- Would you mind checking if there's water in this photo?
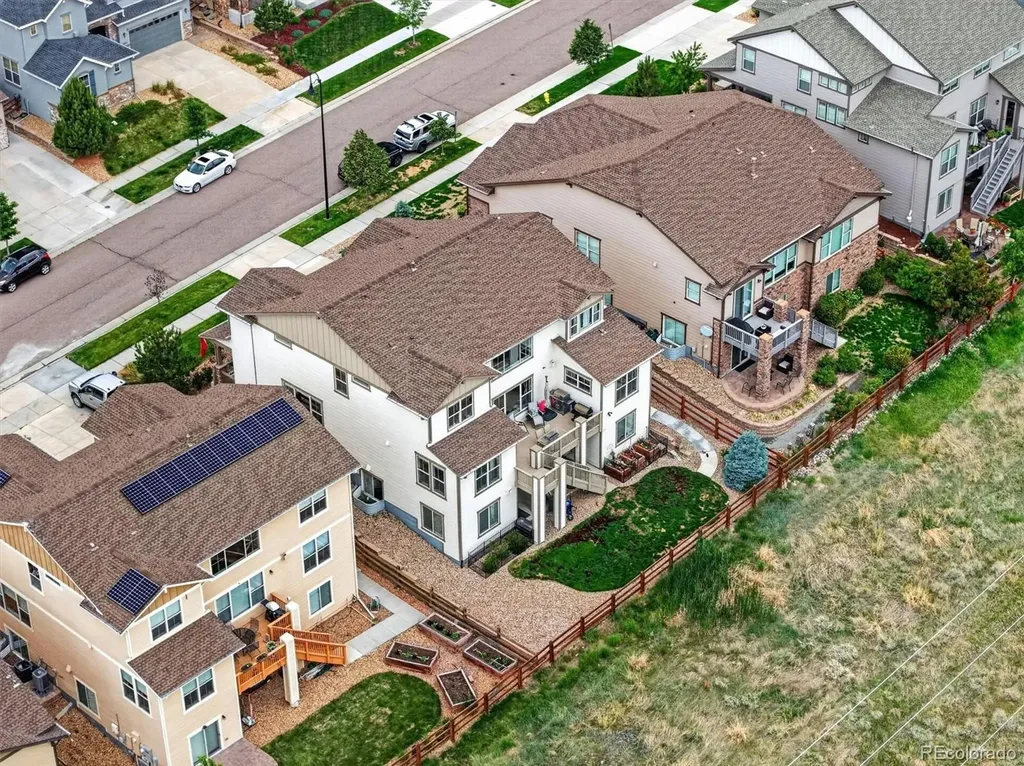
No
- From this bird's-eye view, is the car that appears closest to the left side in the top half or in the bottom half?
top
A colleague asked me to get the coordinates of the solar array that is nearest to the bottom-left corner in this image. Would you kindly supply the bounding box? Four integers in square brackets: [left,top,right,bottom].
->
[106,566,159,614]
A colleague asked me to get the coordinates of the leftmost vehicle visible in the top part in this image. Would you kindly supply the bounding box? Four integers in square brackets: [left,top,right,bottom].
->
[0,240,56,291]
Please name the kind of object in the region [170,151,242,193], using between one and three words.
car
